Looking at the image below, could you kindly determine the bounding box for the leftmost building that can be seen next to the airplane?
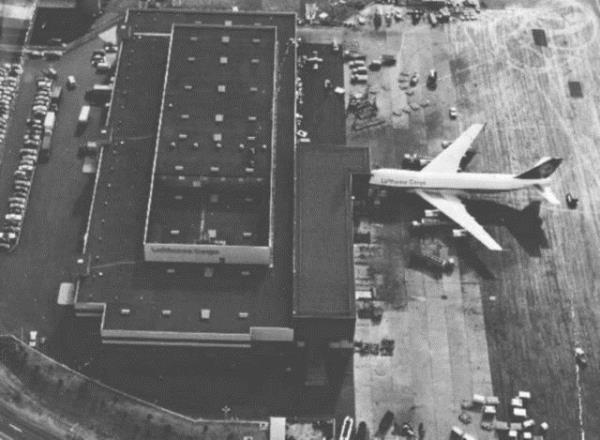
[74,5,296,350]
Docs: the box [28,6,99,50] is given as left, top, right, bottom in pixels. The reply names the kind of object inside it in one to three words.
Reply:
shed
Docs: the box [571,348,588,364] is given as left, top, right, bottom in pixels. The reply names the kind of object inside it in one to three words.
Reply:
work vehicle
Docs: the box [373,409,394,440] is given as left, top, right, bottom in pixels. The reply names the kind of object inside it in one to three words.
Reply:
bus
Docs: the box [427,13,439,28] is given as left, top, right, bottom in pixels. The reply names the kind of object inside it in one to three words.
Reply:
vehicle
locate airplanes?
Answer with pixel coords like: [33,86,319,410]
[368,123,566,247]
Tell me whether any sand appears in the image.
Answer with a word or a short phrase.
No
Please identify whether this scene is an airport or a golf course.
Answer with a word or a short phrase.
airport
